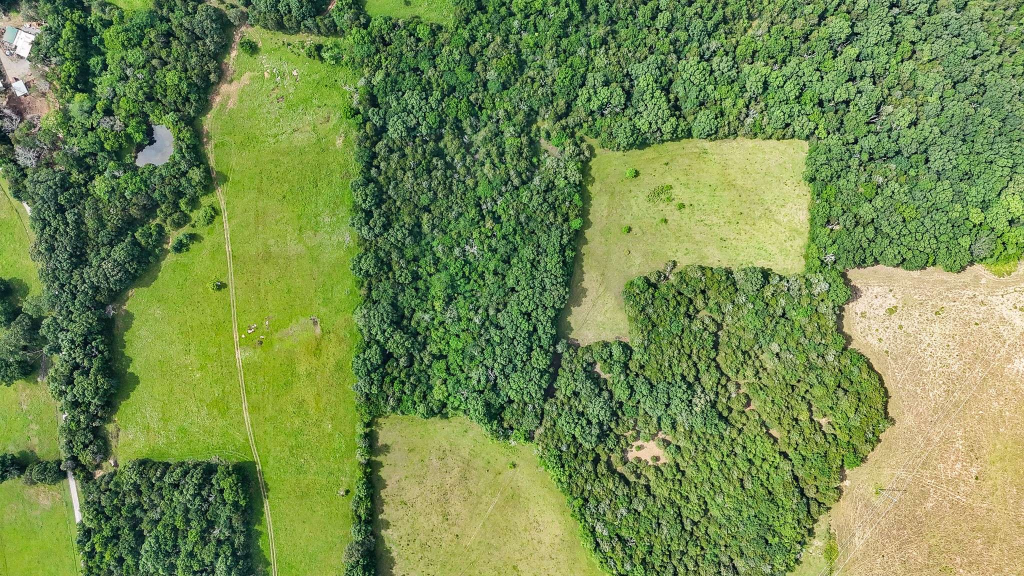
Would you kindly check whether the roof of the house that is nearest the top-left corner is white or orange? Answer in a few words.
white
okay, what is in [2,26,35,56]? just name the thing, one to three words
house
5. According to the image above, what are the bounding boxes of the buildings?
[12,80,31,98]
[2,26,35,56]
